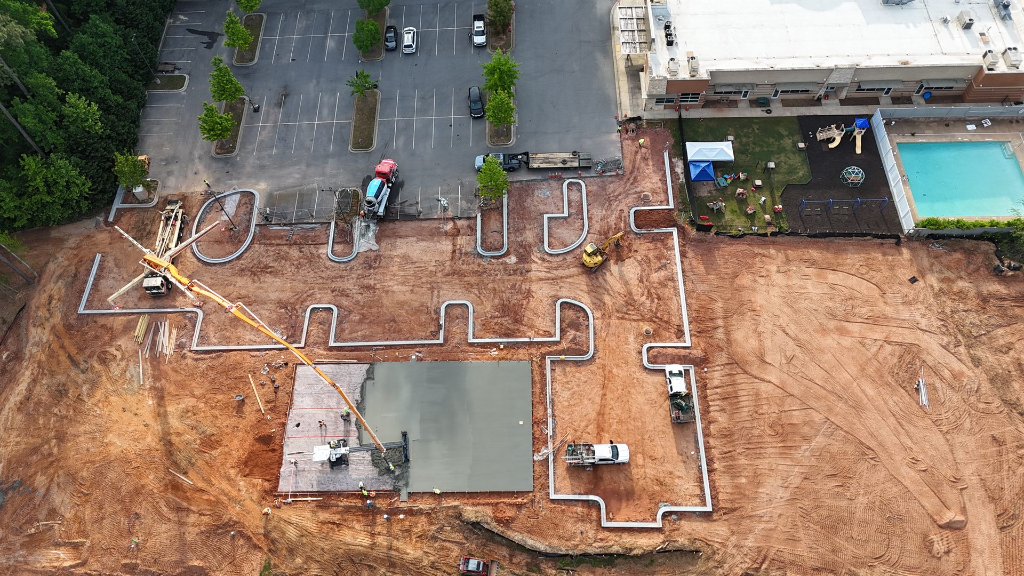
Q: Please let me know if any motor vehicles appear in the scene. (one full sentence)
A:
Yes, the image includes a motor vehicle.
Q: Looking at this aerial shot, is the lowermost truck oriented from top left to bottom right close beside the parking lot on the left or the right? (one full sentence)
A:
The lowermost truck oriented from top left to bottom right close beside the parking lot appears in the left half of the scene.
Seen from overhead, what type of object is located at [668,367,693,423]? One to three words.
truck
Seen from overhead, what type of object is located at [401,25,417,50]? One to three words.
car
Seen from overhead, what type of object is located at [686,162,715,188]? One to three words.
tent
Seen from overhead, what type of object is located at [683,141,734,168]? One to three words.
tent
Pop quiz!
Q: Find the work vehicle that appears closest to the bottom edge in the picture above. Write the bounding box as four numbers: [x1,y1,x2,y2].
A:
[458,556,501,576]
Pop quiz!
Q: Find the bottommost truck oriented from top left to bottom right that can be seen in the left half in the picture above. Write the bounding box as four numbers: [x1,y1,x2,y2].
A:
[108,199,390,463]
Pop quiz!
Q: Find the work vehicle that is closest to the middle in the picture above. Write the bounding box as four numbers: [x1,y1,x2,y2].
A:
[581,231,620,270]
